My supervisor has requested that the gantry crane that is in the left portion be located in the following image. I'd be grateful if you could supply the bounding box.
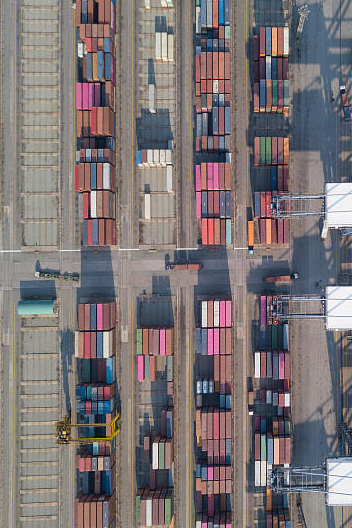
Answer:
[53,404,123,444]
